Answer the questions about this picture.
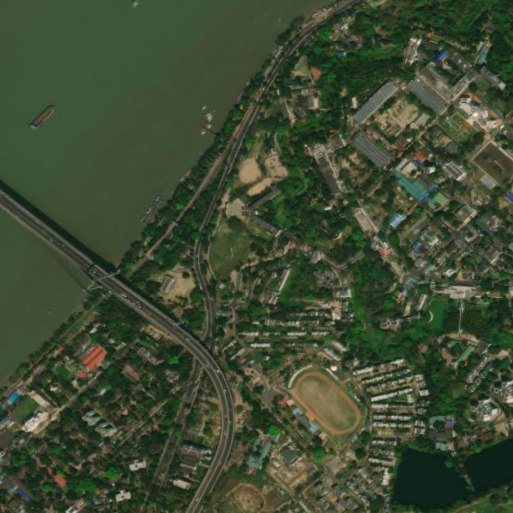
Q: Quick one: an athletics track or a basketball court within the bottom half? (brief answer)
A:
athletics track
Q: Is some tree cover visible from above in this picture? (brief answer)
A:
Yes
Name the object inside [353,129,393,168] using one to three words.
building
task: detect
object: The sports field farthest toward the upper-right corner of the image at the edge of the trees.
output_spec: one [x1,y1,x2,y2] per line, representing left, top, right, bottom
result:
[472,140,513,185]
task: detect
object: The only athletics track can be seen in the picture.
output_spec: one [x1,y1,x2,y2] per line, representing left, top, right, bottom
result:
[290,365,363,437]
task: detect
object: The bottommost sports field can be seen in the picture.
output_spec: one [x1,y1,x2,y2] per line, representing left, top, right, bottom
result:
[232,483,268,513]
